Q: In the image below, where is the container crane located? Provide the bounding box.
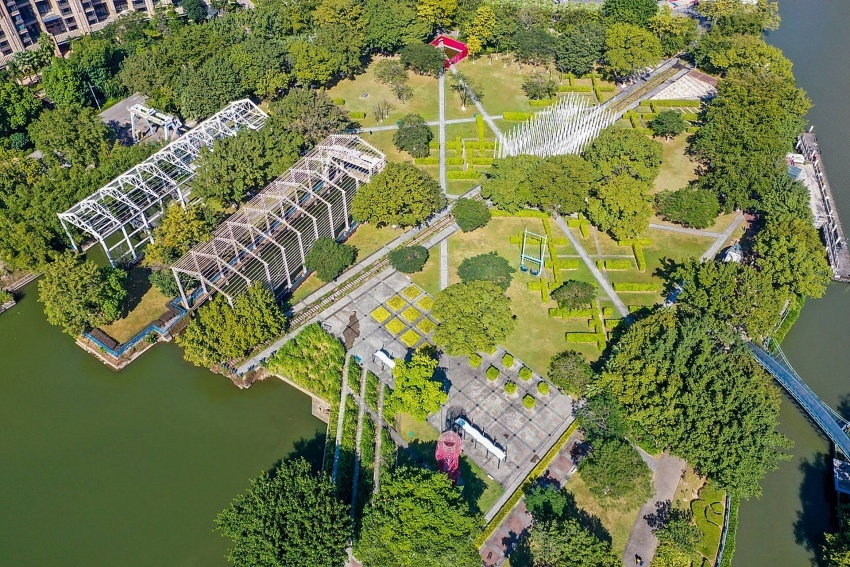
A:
[126,109,185,159]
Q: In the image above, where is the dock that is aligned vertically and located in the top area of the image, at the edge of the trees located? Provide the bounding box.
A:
[802,131,850,287]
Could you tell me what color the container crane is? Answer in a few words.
white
